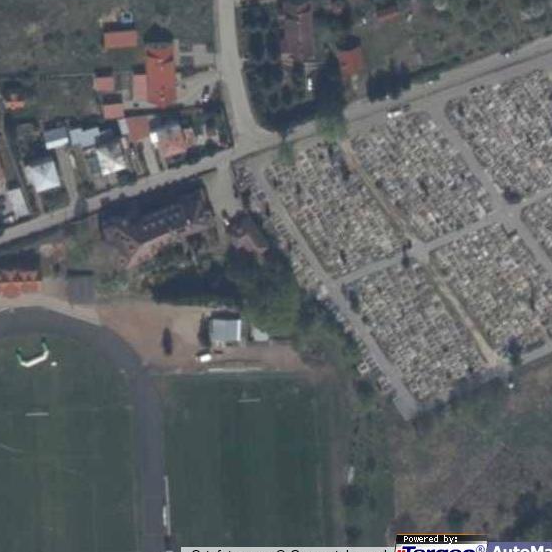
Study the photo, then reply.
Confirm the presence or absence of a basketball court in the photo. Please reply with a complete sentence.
No, there is no basketball court in the image.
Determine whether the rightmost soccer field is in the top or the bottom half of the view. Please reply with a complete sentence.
The rightmost soccer field is in the bottom half of the image.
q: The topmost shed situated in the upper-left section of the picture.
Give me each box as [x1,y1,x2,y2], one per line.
[103,30,136,48]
